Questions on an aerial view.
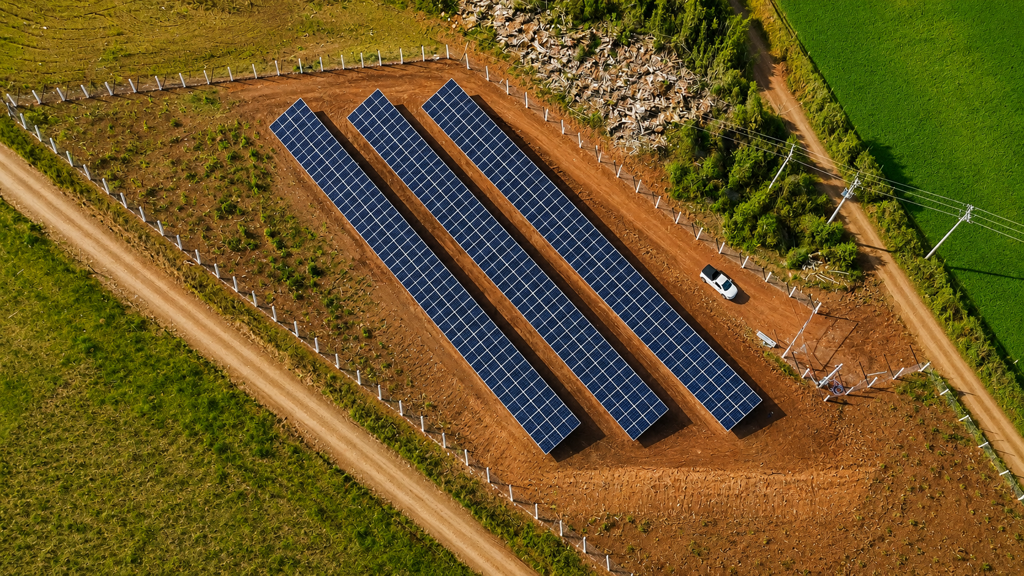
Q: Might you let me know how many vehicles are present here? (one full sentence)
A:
My tally gives 1 vehicle in this photo.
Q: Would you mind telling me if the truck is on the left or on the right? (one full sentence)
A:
The truck appears in the right half of the scene.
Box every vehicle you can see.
[698,263,739,300]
